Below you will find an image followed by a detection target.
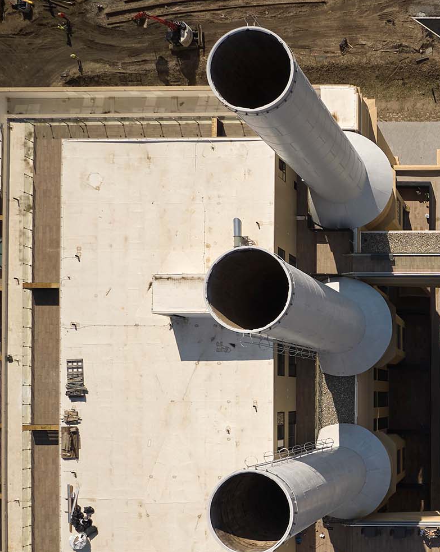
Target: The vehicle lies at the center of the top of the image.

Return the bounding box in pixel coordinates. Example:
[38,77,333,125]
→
[143,13,204,48]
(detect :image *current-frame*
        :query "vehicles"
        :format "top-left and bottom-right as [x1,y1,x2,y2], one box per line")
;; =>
[9,0,36,16]
[143,13,204,48]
